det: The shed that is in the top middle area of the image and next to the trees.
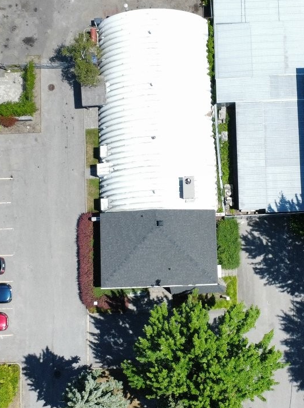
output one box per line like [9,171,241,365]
[82,3,219,212]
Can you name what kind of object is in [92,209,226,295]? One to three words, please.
house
